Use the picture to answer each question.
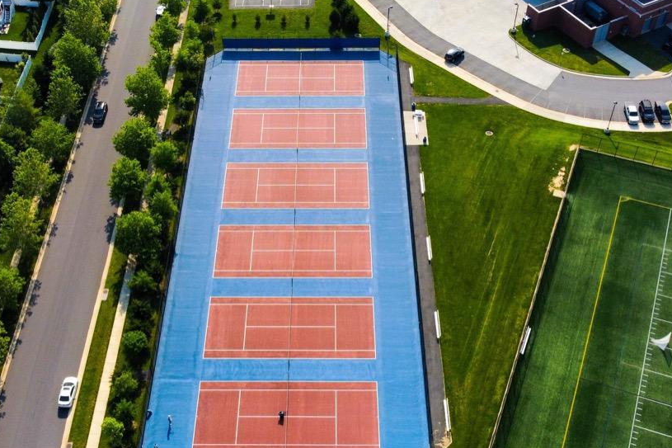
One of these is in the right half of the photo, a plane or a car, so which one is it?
car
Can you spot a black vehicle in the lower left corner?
No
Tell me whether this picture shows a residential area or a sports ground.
sports ground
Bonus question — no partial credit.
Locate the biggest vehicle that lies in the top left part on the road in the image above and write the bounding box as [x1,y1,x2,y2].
[92,100,109,123]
